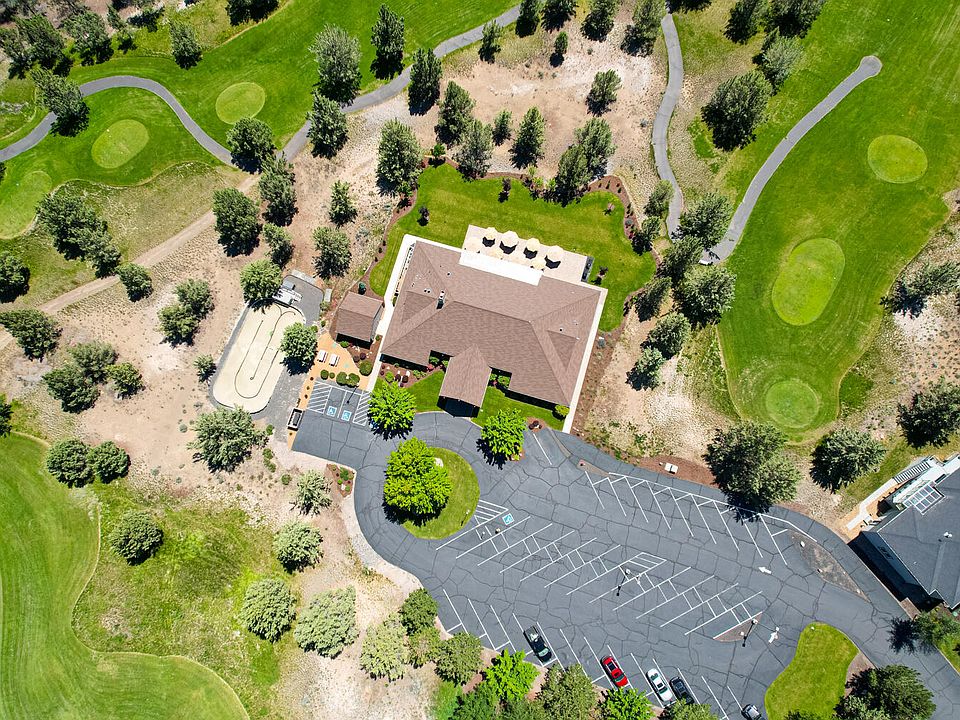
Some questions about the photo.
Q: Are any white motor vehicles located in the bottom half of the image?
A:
Yes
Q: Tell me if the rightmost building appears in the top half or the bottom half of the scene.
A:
bottom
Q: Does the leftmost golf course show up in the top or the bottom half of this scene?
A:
bottom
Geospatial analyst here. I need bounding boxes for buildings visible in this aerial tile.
[337,292,382,341]
[381,240,603,408]
[862,444,960,608]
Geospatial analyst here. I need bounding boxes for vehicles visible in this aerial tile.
[670,675,695,707]
[647,668,673,702]
[743,702,765,720]
[522,624,551,663]
[602,654,627,686]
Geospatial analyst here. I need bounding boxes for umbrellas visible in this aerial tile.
[489,247,503,260]
[465,237,482,253]
[501,230,518,248]
[484,227,497,241]
[531,258,545,271]
[546,243,564,262]
[525,236,540,251]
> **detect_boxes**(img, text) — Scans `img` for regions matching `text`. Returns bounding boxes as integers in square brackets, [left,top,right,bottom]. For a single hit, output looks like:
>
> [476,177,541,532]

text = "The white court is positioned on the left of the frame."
[206,274,324,442]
